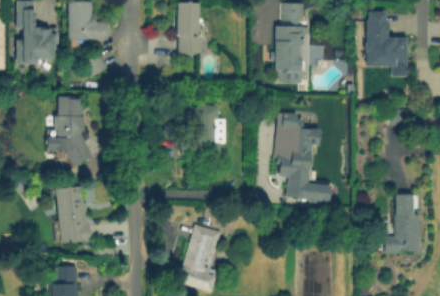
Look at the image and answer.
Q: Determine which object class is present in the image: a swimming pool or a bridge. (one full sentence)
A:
I can see a swimming pool in this picture.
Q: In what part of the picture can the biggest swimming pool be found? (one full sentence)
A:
The biggest swimming pool appears toward the top right of the photo.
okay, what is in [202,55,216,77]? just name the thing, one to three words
swimming pool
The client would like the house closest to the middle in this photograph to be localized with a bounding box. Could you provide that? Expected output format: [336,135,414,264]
[196,106,226,146]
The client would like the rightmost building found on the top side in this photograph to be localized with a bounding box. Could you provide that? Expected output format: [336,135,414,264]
[366,12,408,78]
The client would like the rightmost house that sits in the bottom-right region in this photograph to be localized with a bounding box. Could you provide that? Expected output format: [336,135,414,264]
[386,195,418,256]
